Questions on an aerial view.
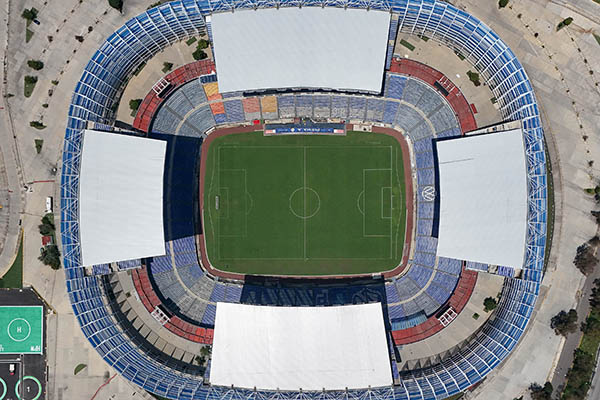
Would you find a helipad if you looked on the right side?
No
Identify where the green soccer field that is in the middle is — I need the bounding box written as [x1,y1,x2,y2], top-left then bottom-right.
[206,131,407,275]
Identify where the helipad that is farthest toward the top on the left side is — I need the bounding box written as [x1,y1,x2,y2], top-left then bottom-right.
[0,306,43,354]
